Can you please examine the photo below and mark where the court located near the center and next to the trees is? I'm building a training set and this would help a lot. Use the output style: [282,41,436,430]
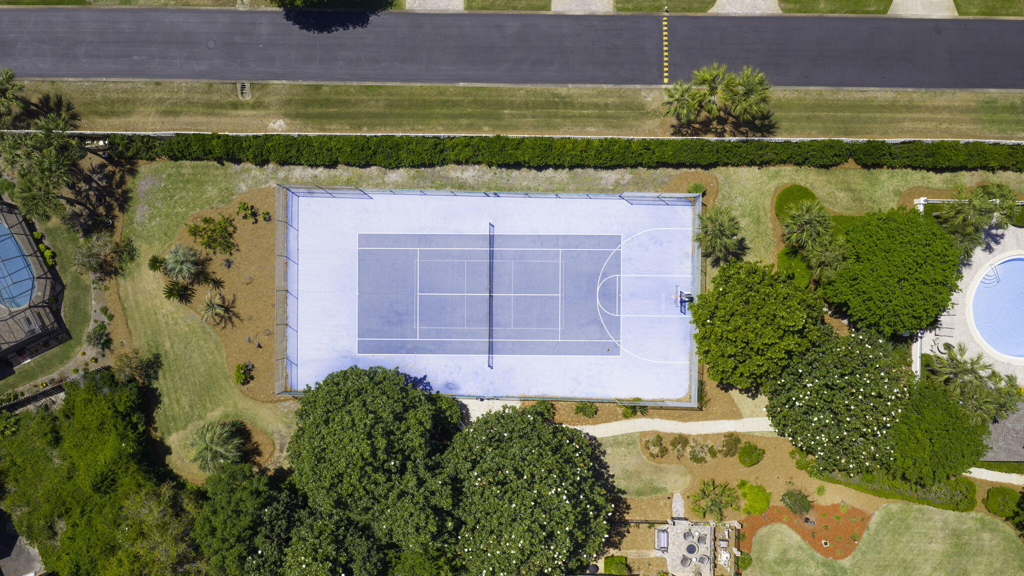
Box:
[287,189,692,399]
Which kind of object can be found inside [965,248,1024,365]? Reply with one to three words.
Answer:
swimming pool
